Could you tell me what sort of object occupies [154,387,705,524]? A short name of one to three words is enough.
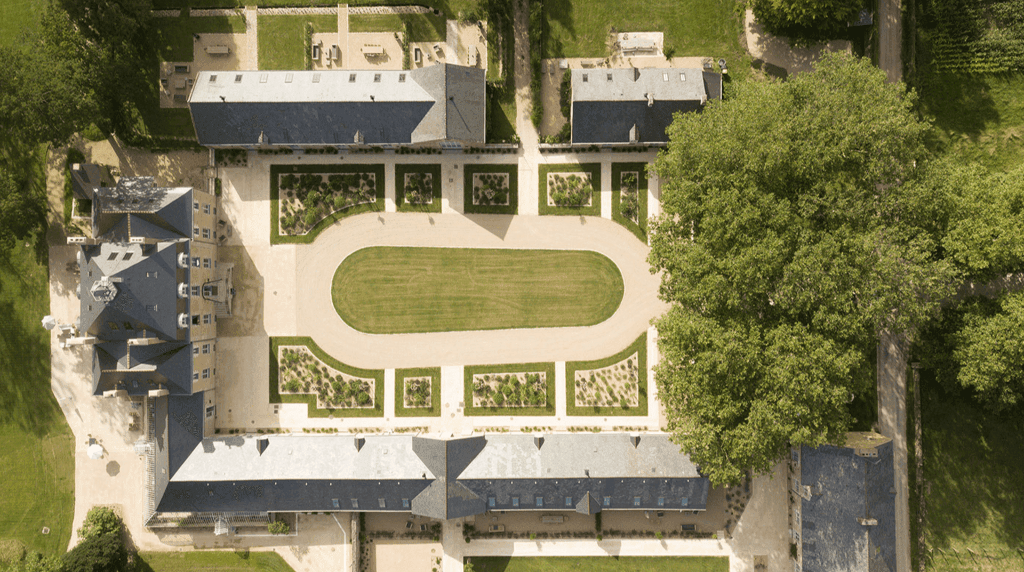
building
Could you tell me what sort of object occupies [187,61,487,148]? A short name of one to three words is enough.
building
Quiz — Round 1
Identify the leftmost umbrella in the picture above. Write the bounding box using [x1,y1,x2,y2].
[41,314,58,330]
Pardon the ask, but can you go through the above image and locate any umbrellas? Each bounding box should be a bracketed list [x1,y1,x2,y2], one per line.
[88,444,104,459]
[41,314,58,330]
